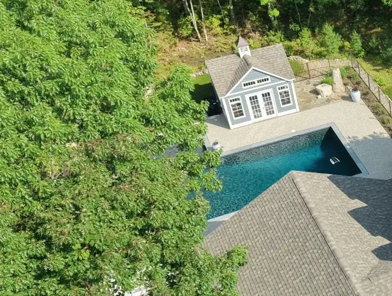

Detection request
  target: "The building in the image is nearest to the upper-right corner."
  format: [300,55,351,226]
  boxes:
[205,29,300,128]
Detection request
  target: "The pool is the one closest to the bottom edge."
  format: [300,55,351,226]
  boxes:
[150,123,368,232]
